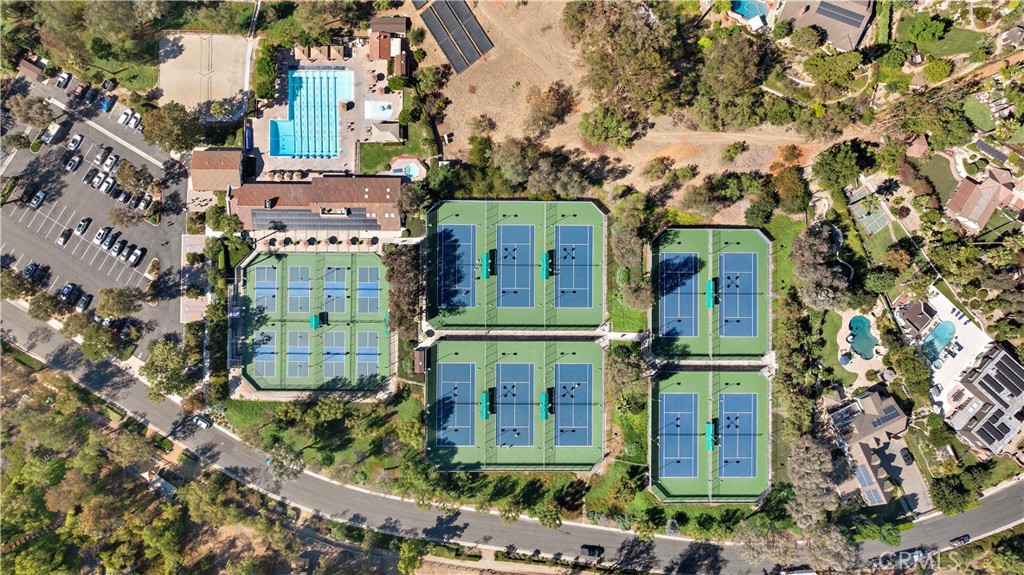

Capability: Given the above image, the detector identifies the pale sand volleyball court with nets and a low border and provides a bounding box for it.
[158,31,248,122]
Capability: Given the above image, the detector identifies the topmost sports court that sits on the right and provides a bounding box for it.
[847,187,889,235]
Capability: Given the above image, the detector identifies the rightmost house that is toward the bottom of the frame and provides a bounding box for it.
[947,344,1024,459]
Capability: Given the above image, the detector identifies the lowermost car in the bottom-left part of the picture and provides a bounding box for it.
[195,414,212,428]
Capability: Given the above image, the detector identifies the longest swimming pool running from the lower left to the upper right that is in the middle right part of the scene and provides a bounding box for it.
[920,320,957,364]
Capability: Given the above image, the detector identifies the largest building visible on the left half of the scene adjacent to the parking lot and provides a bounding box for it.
[227,175,402,232]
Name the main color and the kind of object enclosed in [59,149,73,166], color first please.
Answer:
black car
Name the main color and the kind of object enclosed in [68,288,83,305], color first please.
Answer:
black car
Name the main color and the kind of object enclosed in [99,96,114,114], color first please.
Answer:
blue car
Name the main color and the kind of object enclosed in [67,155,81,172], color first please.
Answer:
gray car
